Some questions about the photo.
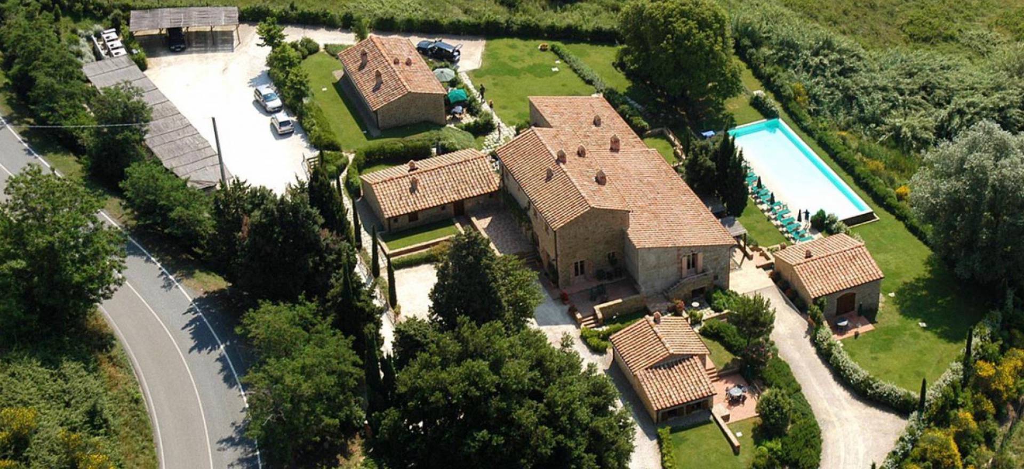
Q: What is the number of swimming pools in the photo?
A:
1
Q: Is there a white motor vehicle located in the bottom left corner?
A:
No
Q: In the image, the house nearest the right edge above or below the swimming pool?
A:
below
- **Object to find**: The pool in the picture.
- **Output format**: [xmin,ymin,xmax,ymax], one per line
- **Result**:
[730,116,880,234]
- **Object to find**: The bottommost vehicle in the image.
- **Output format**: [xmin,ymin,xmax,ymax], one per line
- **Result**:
[271,112,293,131]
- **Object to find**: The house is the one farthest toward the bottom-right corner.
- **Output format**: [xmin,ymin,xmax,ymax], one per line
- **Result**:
[771,233,883,322]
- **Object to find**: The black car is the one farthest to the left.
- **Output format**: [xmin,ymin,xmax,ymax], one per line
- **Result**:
[168,28,184,49]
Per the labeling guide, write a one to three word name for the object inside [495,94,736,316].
house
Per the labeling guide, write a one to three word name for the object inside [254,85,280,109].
car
